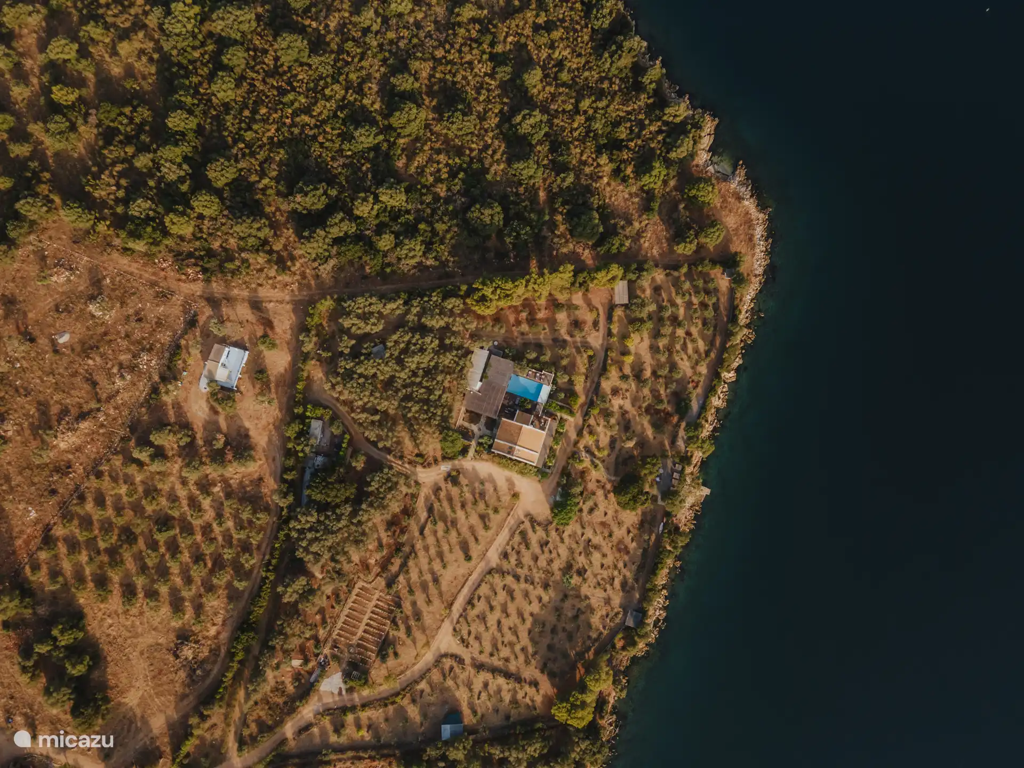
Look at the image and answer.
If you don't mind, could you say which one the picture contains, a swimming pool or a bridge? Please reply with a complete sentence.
Looking from above, you can make out a swimming pool.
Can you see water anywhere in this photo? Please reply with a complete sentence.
Yes, there's water in this view.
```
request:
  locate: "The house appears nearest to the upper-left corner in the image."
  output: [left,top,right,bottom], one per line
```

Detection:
[200,344,252,392]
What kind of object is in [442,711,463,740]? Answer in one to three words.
shed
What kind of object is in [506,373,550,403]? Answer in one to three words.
swimming pool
